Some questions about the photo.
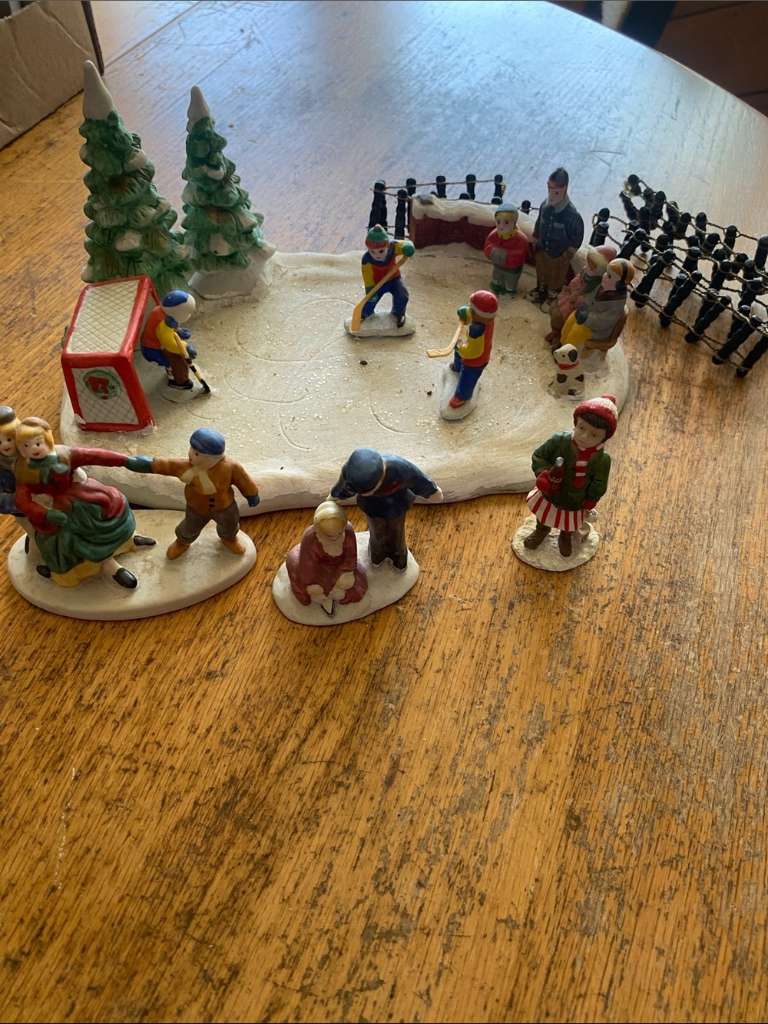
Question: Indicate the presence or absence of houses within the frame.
No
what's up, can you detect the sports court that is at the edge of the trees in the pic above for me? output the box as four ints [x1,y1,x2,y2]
[58,236,633,518]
